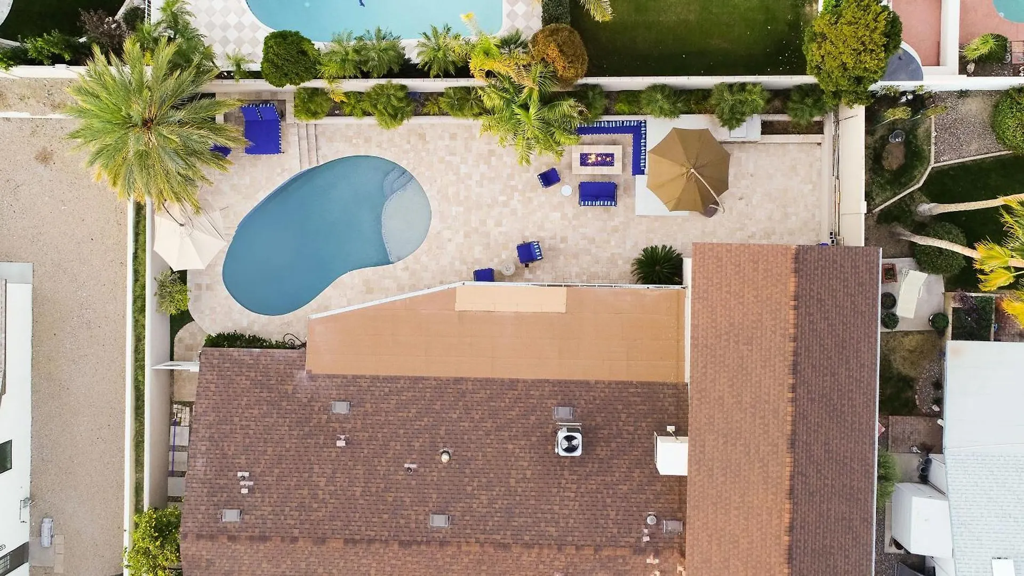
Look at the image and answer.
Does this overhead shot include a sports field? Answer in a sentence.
No, no sports field is visible in the view.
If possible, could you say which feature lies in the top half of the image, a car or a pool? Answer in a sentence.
Visible in the top half of the image is a pool.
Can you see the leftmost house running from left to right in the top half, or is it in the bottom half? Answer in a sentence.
The leftmost house running from left to right sits in the bottom half of the picture.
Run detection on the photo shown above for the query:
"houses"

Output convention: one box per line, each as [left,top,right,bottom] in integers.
[927,341,1024,576]
[0,280,43,576]
[181,244,883,576]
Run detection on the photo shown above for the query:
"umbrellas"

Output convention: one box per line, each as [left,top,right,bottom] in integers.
[646,128,730,217]
[154,198,227,271]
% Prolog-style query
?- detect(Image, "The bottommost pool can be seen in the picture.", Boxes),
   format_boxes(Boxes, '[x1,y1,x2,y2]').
[221,153,433,317]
